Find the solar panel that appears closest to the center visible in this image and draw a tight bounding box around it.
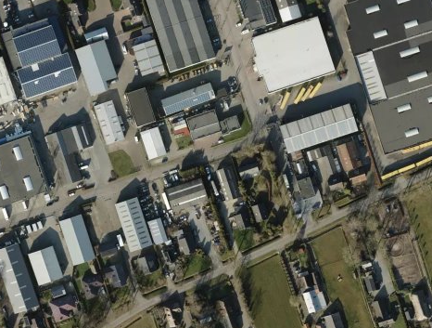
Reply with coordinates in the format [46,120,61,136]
[166,94,205,115]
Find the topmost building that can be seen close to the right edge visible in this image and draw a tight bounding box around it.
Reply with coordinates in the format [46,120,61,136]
[344,0,432,56]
